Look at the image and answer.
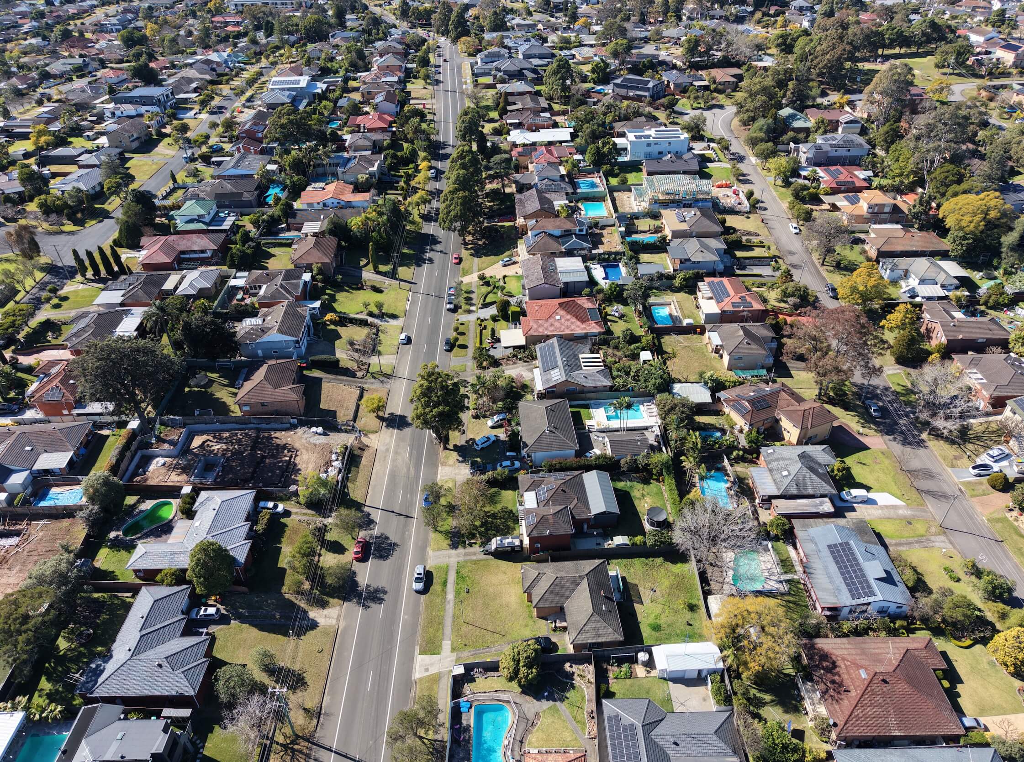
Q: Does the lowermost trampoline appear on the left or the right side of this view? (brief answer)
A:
left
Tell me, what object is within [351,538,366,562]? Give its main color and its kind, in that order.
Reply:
red car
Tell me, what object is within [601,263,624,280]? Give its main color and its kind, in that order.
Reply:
blue swimming pool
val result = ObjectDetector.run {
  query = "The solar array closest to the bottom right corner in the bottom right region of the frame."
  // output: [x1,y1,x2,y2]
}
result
[830,541,877,599]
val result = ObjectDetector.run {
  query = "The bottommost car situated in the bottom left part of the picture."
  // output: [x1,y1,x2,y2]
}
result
[188,605,223,624]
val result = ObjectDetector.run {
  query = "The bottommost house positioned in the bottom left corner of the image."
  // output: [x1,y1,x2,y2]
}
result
[58,702,173,762]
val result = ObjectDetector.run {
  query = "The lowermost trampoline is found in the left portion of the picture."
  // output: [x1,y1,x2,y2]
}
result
[70,624,95,646]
